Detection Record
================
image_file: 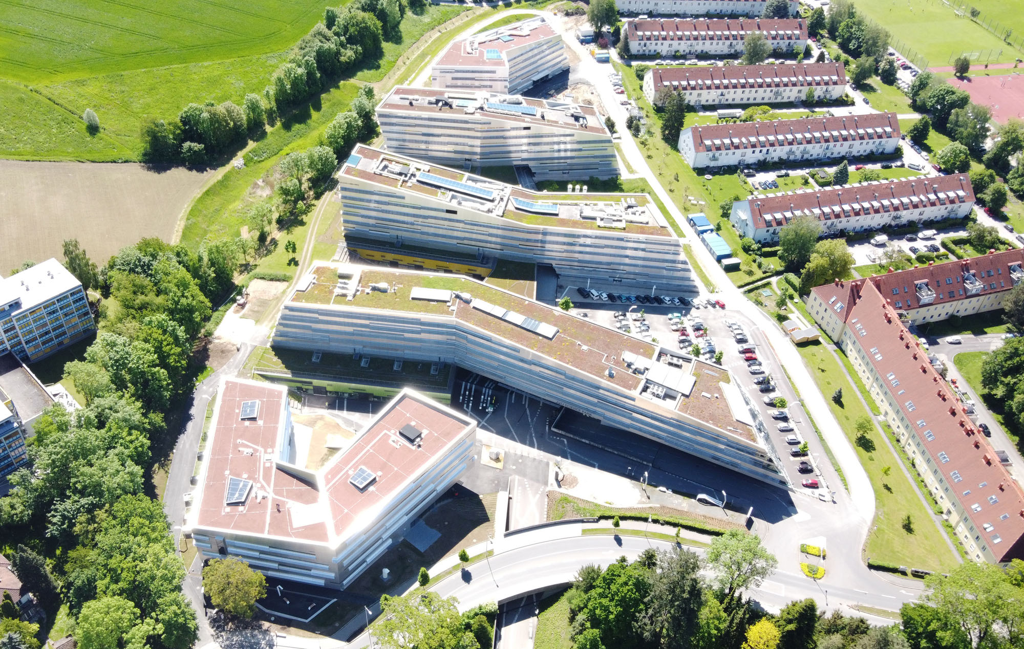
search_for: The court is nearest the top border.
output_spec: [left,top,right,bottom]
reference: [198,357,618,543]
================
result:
[969,73,1024,124]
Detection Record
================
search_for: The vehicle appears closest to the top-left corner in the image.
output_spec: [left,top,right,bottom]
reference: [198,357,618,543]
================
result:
[232,292,253,310]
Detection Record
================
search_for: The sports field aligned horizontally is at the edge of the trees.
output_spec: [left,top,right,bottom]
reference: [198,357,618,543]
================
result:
[855,0,1024,66]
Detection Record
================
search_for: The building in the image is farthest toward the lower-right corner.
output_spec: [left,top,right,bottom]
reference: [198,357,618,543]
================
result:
[840,306,1024,578]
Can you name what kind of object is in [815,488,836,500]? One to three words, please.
vehicle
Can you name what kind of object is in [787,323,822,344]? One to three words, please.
shed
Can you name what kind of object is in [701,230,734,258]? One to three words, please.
shipping container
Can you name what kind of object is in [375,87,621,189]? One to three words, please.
building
